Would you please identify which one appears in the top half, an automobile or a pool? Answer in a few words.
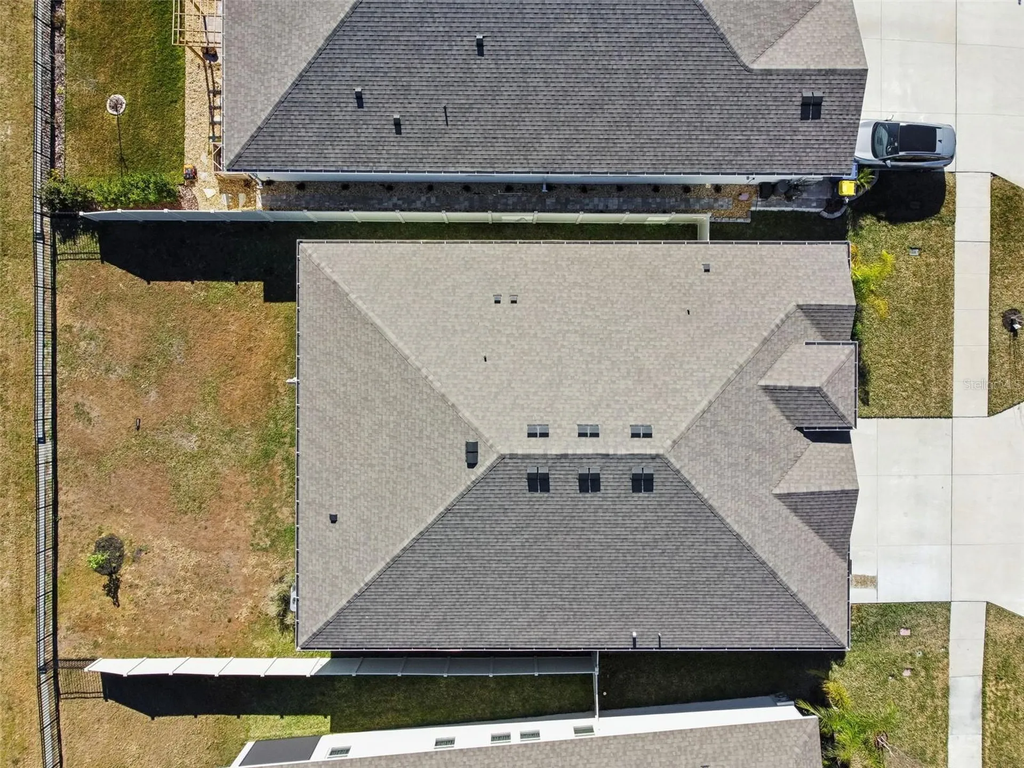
automobile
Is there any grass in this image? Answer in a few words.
Yes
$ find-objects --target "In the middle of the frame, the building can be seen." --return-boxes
[287,241,858,650]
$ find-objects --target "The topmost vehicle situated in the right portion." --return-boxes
[852,112,957,172]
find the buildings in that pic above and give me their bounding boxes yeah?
[287,241,858,650]
[223,0,867,193]
[228,694,822,768]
